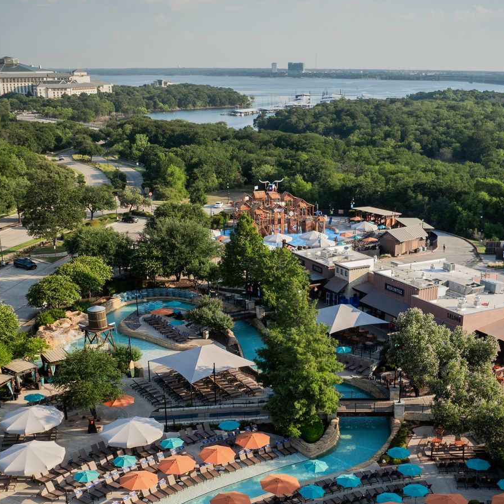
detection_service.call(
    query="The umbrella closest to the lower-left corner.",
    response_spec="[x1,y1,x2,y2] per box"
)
[0,447,65,501]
